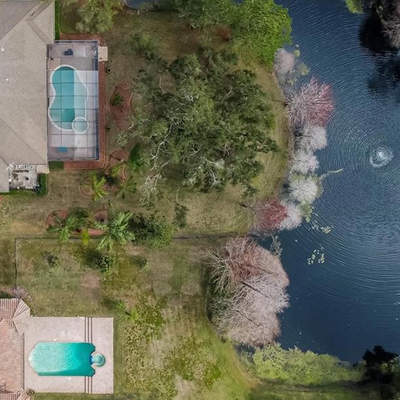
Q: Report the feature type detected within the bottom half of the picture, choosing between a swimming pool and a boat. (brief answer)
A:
swimming pool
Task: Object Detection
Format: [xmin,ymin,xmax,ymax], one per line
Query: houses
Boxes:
[0,0,55,193]
[0,298,31,400]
